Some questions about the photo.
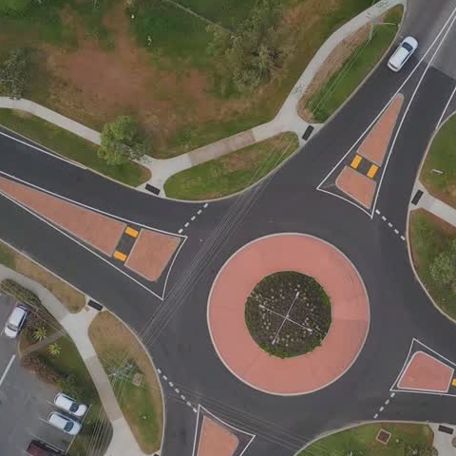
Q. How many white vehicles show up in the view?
4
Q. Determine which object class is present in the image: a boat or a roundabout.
roundabout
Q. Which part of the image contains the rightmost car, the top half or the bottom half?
top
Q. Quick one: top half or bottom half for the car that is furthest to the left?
bottom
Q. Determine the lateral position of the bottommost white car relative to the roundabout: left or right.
left of it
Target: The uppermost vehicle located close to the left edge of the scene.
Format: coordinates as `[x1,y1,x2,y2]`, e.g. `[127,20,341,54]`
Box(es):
[5,303,30,340]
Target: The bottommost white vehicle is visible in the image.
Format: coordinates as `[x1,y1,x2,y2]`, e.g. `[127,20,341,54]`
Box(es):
[45,408,83,436]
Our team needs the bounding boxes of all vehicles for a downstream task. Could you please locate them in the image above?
[45,408,83,436]
[5,303,30,340]
[23,437,66,456]
[52,391,90,417]
[387,33,417,74]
